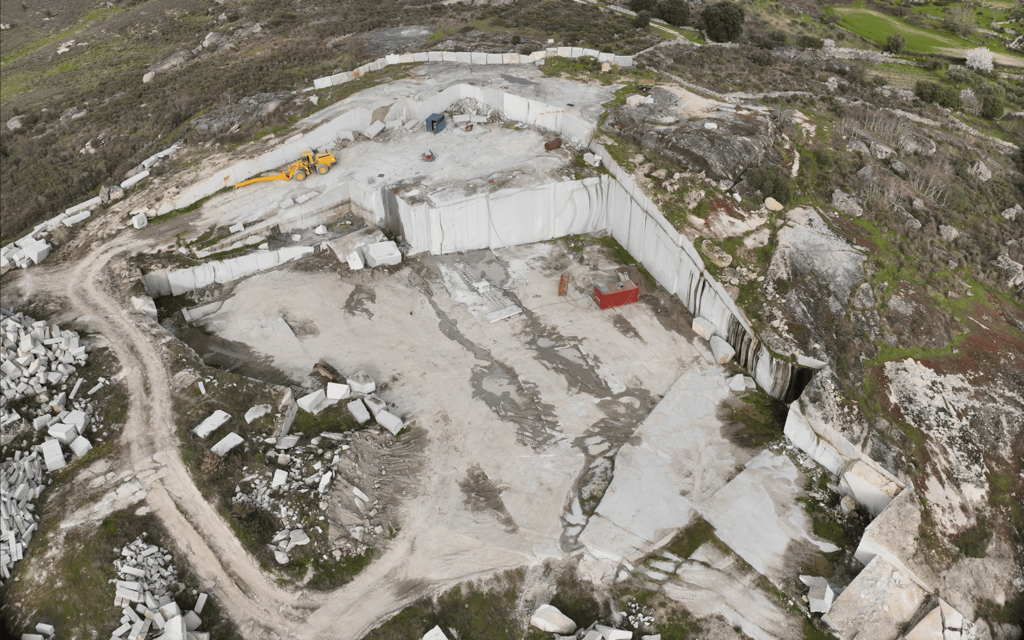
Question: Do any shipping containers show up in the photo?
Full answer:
Yes, I can see a shipping container in this picture.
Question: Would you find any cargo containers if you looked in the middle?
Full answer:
Yes, the scene does show a cargo container in the middle.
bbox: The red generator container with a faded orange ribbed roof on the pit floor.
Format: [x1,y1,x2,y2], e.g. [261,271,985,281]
[594,275,641,309]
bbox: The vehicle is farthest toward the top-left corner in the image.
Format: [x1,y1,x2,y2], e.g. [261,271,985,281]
[236,152,335,190]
